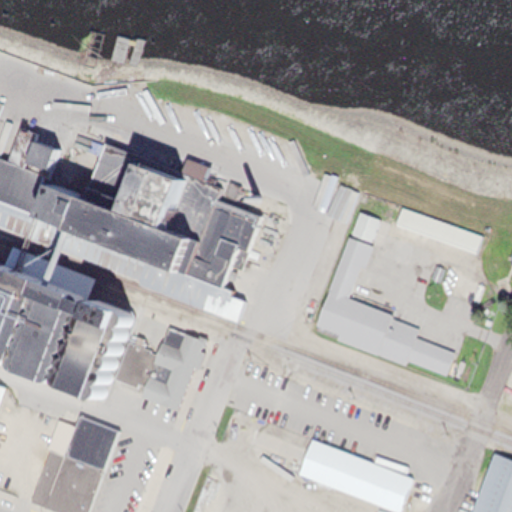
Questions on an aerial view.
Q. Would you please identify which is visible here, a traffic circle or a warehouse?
warehouse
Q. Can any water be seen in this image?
Yes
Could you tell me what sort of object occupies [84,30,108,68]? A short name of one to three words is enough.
pier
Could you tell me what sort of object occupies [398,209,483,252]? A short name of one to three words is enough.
shed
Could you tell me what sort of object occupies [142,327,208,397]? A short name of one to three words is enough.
building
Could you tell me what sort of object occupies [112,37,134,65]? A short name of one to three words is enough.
pier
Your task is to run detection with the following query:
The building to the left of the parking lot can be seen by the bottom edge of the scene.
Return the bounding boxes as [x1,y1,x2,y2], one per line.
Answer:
[30,417,120,512]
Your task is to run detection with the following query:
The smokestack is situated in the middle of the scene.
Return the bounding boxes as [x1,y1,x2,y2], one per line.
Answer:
[241,196,268,210]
